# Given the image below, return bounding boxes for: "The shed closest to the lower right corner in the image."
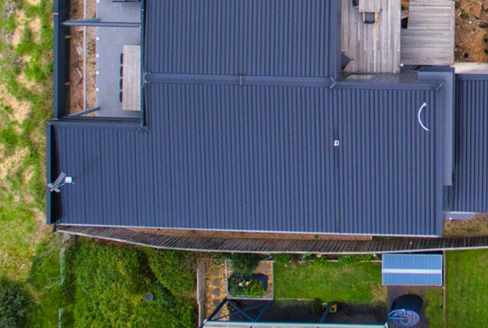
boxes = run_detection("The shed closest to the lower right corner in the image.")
[382,245,443,286]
